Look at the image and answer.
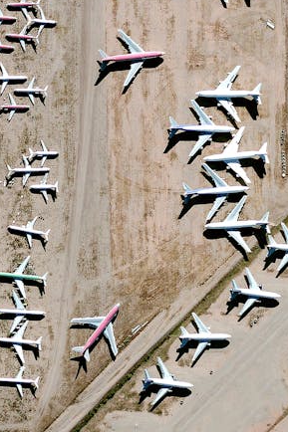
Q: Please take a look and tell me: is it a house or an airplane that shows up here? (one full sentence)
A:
I can see an airplane in this picture.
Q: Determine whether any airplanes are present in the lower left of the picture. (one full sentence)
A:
Yes, looking in the lower left of the picture, one can make out an airplane.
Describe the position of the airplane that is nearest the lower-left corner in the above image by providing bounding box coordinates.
[0,366,38,397]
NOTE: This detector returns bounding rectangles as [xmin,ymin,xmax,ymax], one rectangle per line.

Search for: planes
[0,291,45,332]
[267,223,288,270]
[30,141,58,167]
[0,94,30,120]
[0,63,27,94]
[69,304,119,362]
[204,127,270,183]
[0,366,38,397]
[196,66,262,122]
[5,24,38,50]
[23,7,57,34]
[7,154,49,186]
[169,100,234,156]
[142,358,194,405]
[30,173,58,201]
[180,314,231,361]
[230,268,280,315]
[205,196,270,253]
[182,163,249,220]
[0,11,16,23]
[99,30,164,85]
[0,256,48,297]
[7,0,41,17]
[0,43,14,49]
[0,322,42,362]
[14,78,47,104]
[8,217,49,247]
